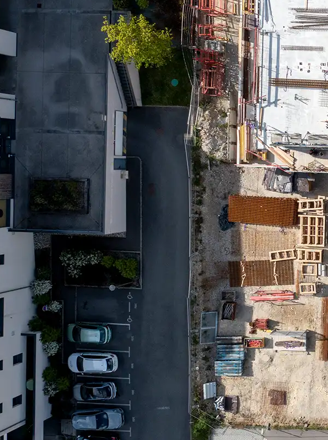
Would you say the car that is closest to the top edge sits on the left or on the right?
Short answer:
left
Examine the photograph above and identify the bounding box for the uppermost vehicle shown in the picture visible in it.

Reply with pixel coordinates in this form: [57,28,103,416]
[63,322,111,348]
